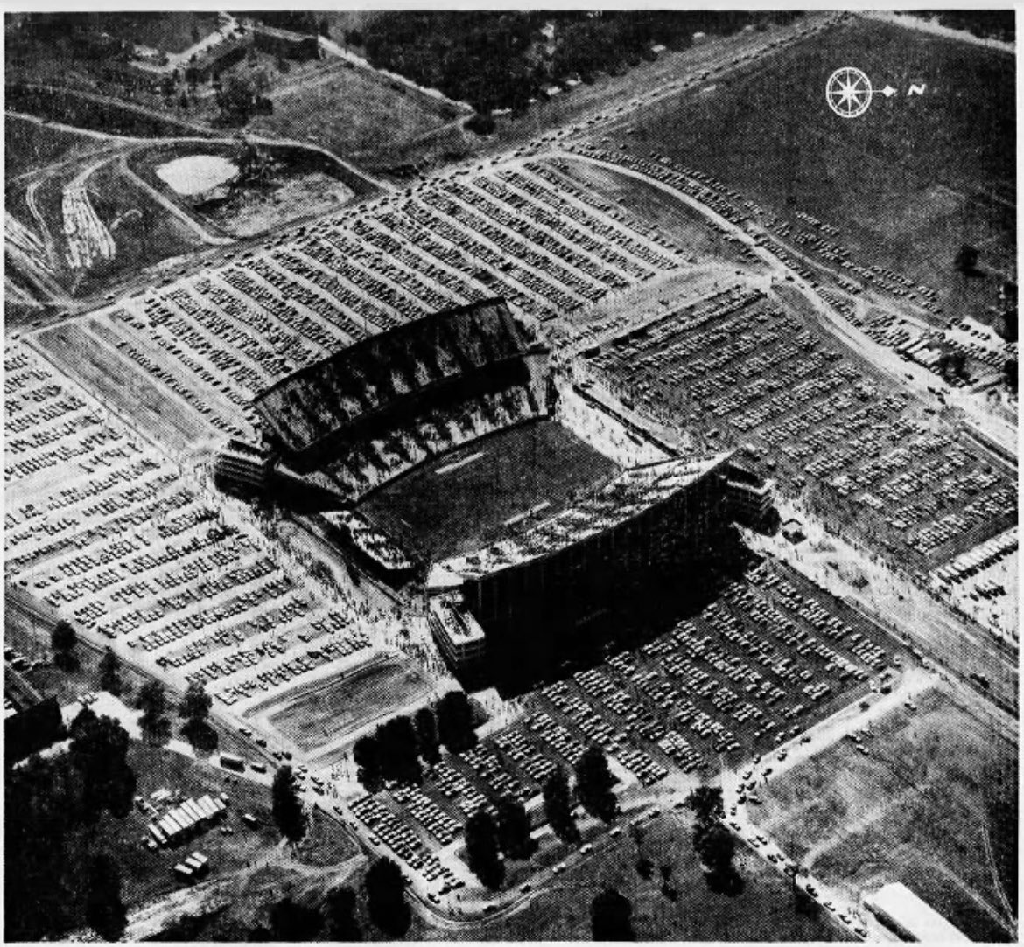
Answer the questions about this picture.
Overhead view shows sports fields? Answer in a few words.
Yes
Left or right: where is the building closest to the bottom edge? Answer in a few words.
right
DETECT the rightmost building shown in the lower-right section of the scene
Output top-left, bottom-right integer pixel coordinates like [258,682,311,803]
[866,880,981,947]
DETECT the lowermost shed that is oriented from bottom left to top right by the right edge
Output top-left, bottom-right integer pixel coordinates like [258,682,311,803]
[964,366,1000,405]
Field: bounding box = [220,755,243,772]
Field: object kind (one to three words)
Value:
vehicle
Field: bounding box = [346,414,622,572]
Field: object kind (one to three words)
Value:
sports field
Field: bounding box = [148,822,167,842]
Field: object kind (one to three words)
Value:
vehicle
